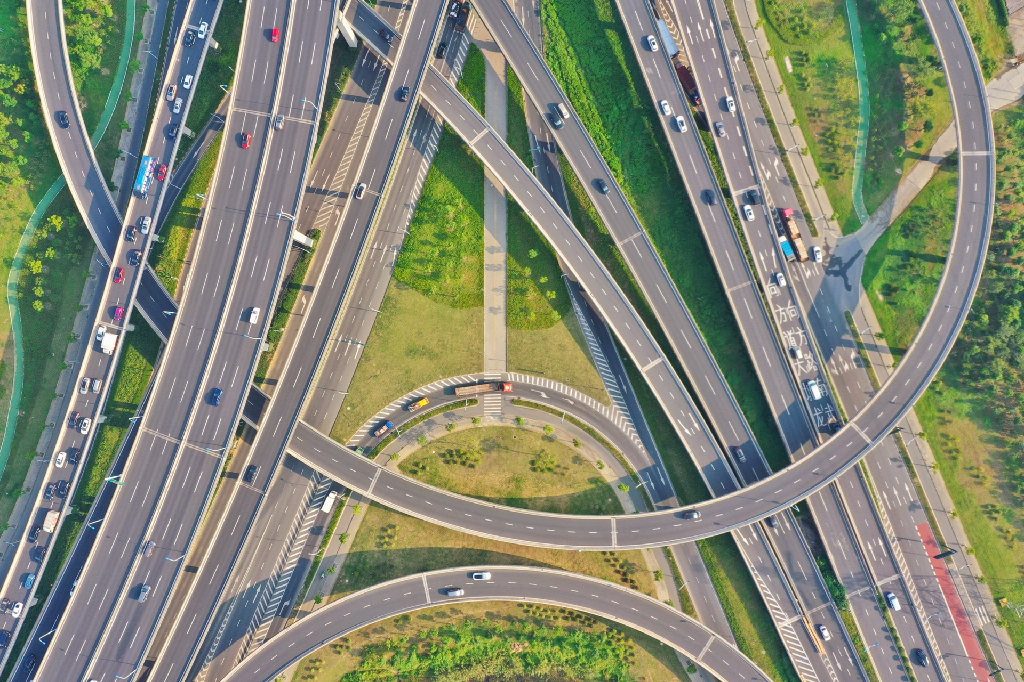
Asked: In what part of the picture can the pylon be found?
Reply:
bottom right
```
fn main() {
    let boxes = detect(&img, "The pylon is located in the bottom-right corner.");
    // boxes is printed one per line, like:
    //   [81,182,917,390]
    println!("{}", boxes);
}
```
[999,602,1024,654]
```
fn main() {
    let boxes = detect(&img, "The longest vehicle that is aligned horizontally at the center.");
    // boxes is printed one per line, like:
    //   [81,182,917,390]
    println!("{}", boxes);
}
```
[454,382,511,395]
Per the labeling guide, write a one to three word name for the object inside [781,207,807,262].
truck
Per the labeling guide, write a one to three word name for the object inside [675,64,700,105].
truck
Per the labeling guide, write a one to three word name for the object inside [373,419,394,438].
vehicle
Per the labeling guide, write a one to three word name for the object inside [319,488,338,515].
vehicle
